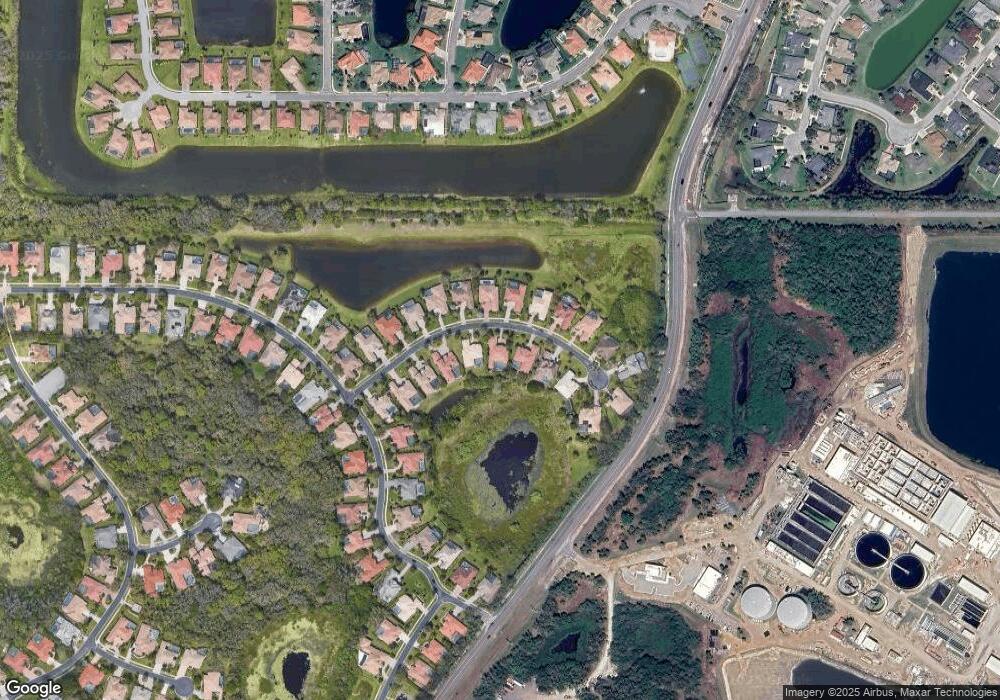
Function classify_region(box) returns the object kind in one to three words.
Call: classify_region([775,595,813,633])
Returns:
storage tank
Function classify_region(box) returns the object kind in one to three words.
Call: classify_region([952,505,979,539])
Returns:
building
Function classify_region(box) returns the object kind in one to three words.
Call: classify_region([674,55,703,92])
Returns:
tennis court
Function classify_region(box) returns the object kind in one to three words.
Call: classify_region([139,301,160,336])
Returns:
house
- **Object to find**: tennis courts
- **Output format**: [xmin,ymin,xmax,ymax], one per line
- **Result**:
[674,55,703,92]
[684,28,714,65]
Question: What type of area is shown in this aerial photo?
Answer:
residential area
